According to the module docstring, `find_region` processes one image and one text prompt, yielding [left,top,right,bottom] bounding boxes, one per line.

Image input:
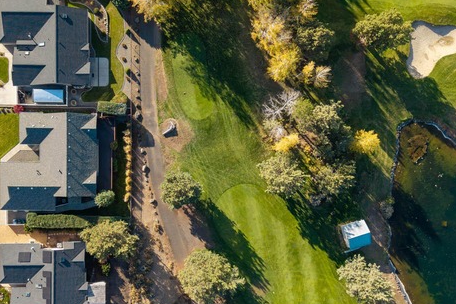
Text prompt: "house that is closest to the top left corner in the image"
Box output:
[0,0,91,85]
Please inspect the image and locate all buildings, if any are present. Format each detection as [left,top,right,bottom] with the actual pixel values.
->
[0,111,98,210]
[0,243,106,304]
[336,220,371,250]
[0,0,91,85]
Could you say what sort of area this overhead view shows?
golf course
